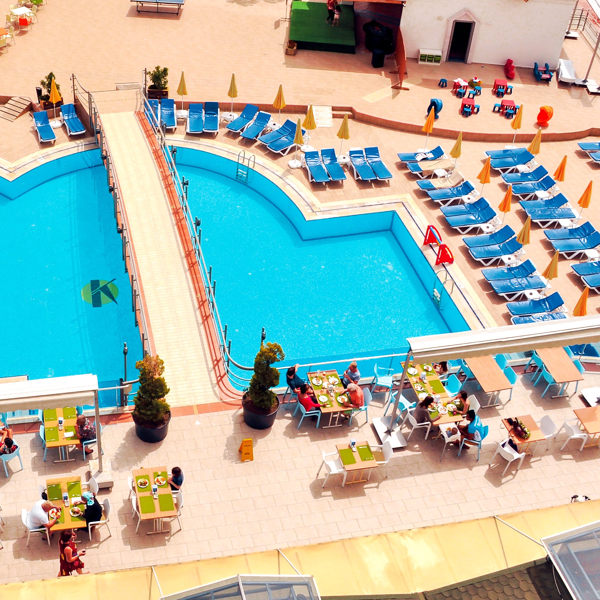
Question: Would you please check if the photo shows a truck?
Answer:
No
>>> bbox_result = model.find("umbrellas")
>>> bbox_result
[442,132,462,177]
[502,104,523,148]
[336,112,350,156]
[540,249,561,295]
[286,116,303,167]
[224,71,238,116]
[549,153,568,198]
[526,126,541,169]
[570,285,590,316]
[488,184,512,233]
[298,103,315,150]
[508,213,531,265]
[476,156,492,194]
[416,106,433,151]
[273,83,284,123]
[176,70,187,117]
[571,179,594,226]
